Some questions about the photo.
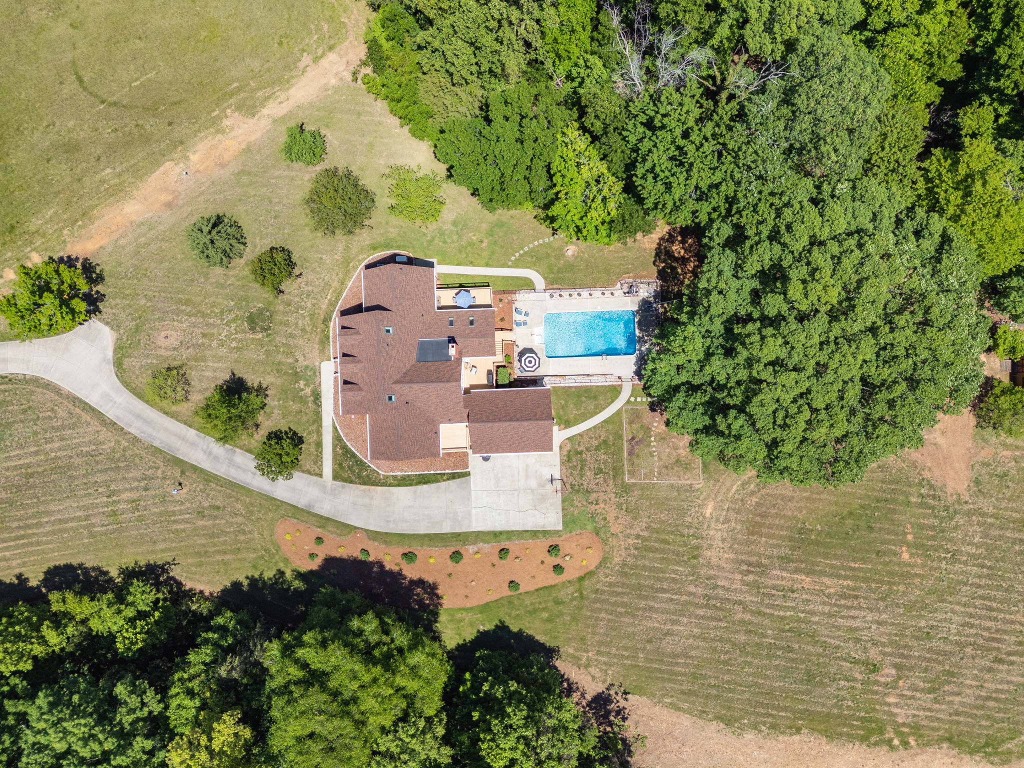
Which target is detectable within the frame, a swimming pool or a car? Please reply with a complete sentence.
Of the two, only a swimming pool appears.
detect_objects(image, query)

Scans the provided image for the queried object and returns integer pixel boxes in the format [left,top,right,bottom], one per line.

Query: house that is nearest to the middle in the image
[335,263,553,461]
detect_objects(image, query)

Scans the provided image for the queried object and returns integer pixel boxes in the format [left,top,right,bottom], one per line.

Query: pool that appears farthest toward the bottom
[534,306,638,361]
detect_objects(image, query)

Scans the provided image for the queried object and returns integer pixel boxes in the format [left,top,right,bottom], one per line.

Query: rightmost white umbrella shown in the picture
[521,352,540,372]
